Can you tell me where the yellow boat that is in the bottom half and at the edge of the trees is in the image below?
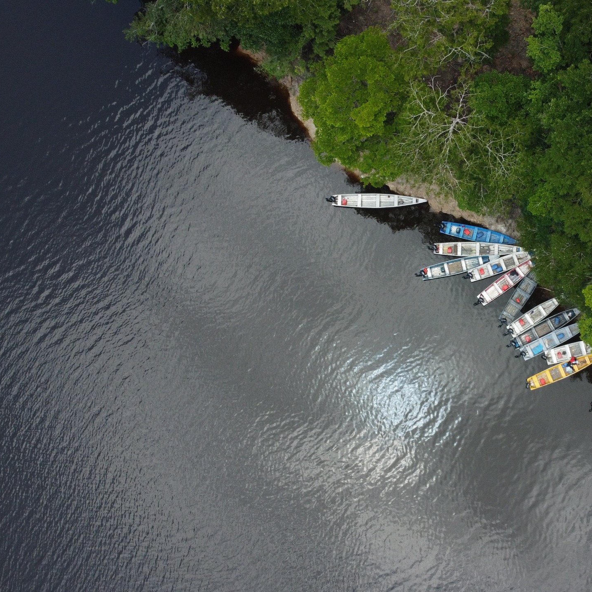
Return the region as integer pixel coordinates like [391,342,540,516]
[526,356,592,394]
